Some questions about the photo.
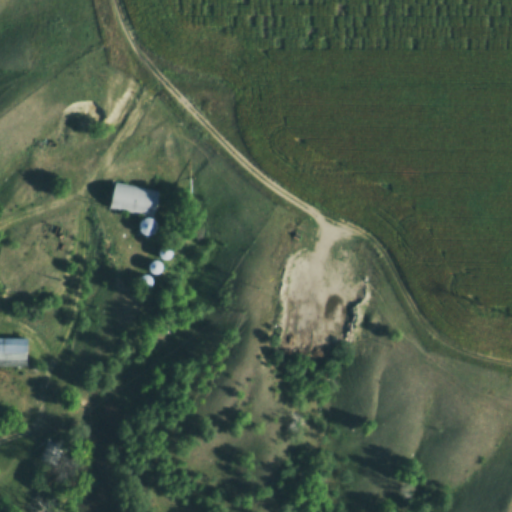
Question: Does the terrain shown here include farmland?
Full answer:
Yes, farmland can be seen from above here.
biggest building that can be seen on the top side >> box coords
[110,182,158,214]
